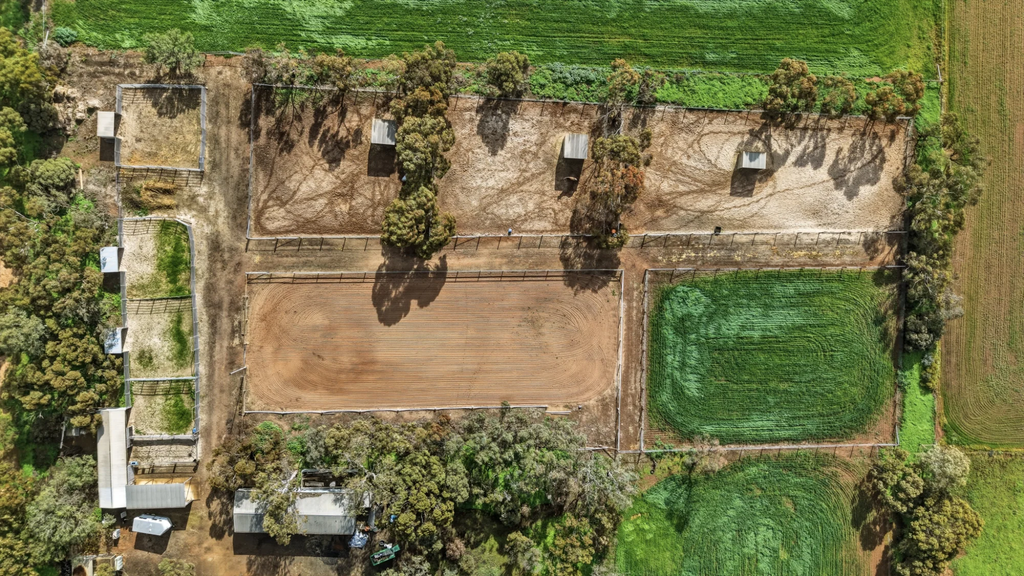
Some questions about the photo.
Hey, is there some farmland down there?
Yes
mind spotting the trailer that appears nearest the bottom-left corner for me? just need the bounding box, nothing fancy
[134,513,184,535]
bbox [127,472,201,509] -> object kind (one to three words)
shed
